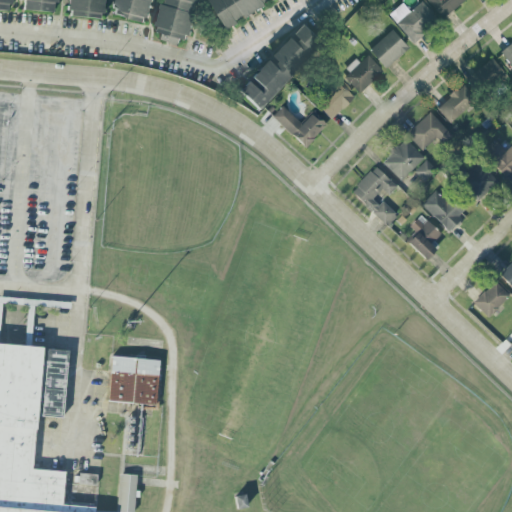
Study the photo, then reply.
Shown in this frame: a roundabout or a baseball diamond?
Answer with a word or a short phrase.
baseball diamond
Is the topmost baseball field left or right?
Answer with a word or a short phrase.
left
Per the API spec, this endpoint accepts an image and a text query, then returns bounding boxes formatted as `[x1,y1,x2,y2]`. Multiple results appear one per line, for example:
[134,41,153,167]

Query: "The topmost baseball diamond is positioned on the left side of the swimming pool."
[102,109,240,252]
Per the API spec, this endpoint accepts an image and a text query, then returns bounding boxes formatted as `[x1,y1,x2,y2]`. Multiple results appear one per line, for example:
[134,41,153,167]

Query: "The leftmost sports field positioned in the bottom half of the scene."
[180,203,350,452]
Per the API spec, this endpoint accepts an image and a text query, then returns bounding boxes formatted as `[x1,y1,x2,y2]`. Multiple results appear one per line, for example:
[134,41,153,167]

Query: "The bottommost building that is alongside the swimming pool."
[274,104,330,147]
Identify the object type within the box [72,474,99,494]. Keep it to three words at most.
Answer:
shed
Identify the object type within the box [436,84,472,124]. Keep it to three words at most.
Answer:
house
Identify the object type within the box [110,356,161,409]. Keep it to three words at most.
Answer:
building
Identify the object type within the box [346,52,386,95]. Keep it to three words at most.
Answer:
house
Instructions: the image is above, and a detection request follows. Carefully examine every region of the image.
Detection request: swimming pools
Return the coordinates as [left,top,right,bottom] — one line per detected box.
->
[288,90,306,118]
